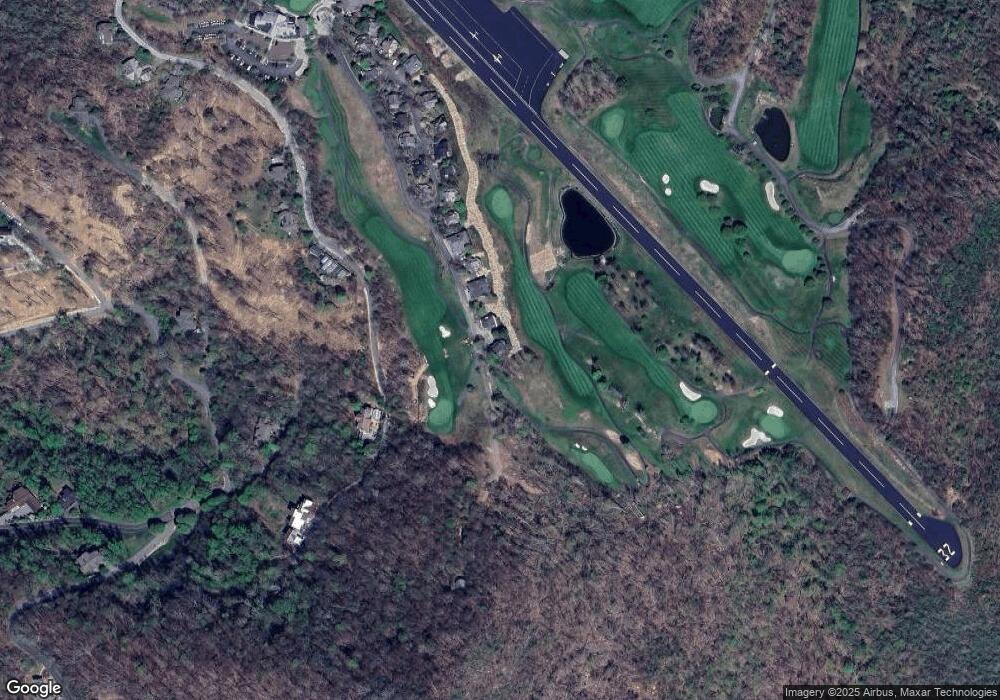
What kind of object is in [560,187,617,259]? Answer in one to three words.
pond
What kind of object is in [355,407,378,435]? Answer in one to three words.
house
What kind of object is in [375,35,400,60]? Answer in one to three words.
house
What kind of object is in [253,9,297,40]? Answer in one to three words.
building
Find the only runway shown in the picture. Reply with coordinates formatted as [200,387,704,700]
[404,0,962,568]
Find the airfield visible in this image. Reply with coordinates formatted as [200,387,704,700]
[404,0,962,568]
